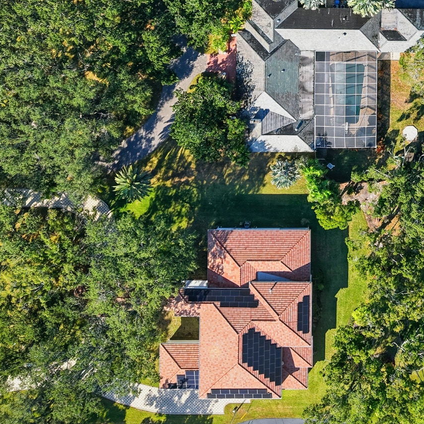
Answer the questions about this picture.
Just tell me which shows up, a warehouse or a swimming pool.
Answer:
swimming pool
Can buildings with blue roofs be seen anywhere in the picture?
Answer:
No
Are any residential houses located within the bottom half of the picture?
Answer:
Yes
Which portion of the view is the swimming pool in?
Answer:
top right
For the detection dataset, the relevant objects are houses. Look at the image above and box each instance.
[236,0,424,152]
[159,226,314,399]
